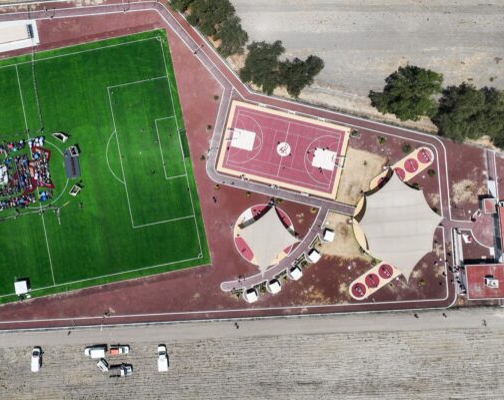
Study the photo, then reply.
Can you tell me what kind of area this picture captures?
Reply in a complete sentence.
This looks like a sports ground.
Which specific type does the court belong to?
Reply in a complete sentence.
It turns out the court is a basketball court.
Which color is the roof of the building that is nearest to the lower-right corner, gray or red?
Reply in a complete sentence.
The roof of the building that is nearest to the lower-right corner looks red in the image.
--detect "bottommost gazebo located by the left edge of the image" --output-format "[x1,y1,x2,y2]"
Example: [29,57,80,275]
[14,278,28,295]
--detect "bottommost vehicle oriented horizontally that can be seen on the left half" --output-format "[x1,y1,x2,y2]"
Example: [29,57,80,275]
[109,364,133,376]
